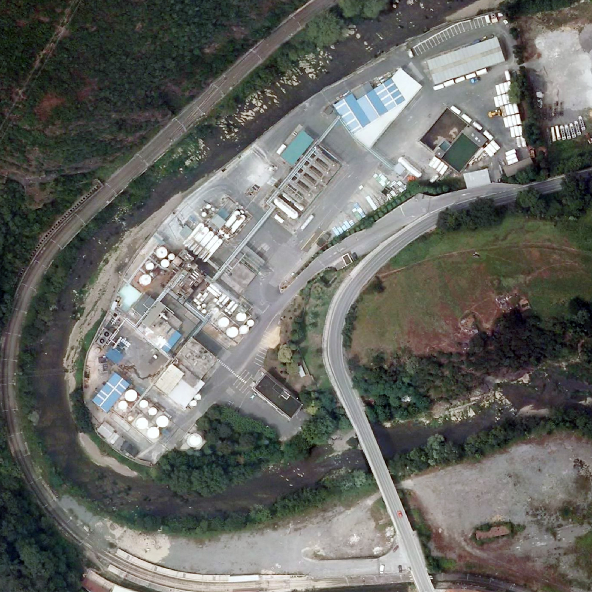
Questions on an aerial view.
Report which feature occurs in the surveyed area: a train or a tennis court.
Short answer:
train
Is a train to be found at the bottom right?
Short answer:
No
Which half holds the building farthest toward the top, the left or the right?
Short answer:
right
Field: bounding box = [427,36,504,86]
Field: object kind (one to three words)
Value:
building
